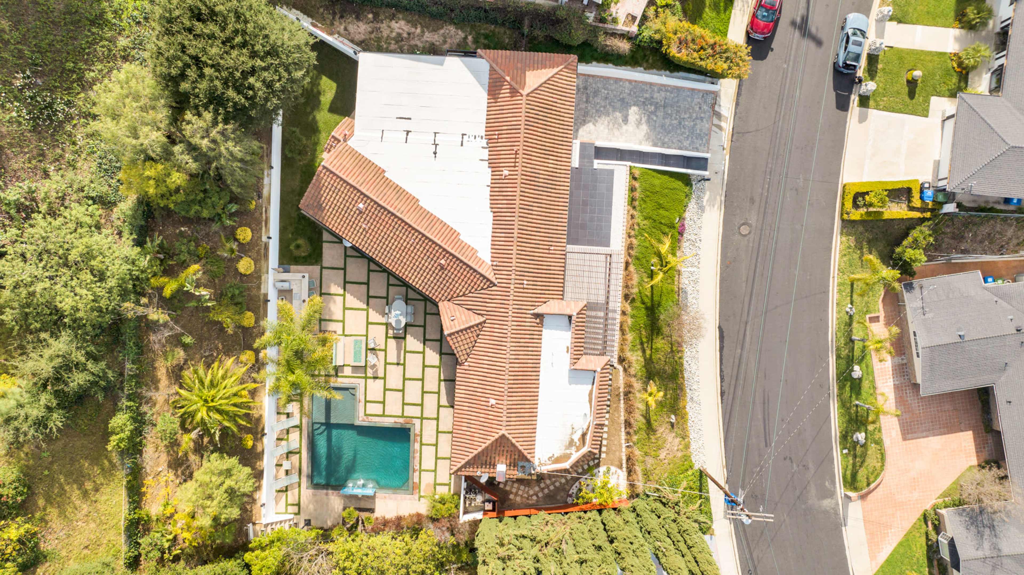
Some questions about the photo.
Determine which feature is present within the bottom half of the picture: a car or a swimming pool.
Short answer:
swimming pool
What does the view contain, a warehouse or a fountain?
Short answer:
fountain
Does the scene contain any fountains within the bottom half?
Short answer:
Yes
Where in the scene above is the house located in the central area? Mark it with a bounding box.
[297,48,610,479]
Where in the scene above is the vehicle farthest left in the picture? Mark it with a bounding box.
[747,0,780,39]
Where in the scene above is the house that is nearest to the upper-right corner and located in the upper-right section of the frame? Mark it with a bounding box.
[926,0,1024,200]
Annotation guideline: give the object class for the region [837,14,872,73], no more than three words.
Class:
car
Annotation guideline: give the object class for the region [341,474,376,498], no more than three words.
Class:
fountain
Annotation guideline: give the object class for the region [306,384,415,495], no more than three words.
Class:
swimming pool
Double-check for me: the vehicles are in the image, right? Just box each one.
[747,0,780,39]
[837,14,872,73]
